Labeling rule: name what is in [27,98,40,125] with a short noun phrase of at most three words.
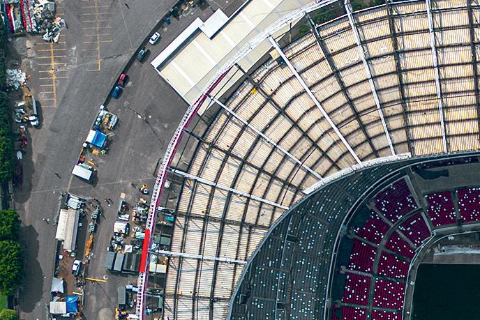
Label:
vehicle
